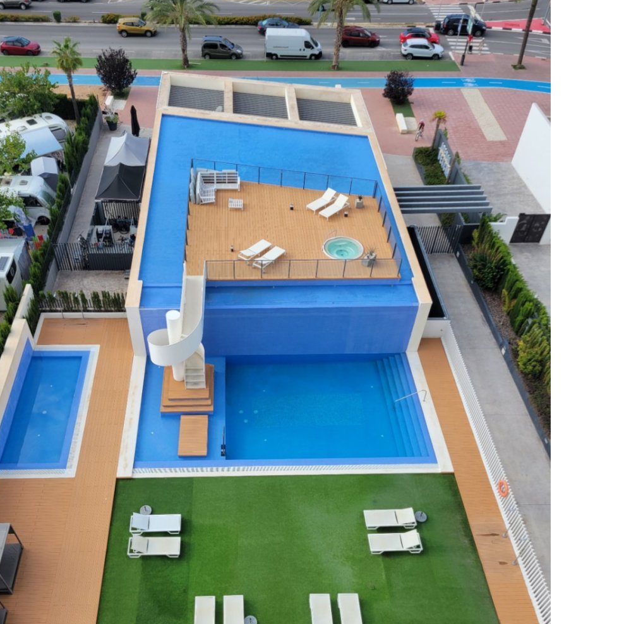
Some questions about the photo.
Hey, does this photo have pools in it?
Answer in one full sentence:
Yes, this view includes a pool.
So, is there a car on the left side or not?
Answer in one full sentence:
Yes, a car appears on the left side.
